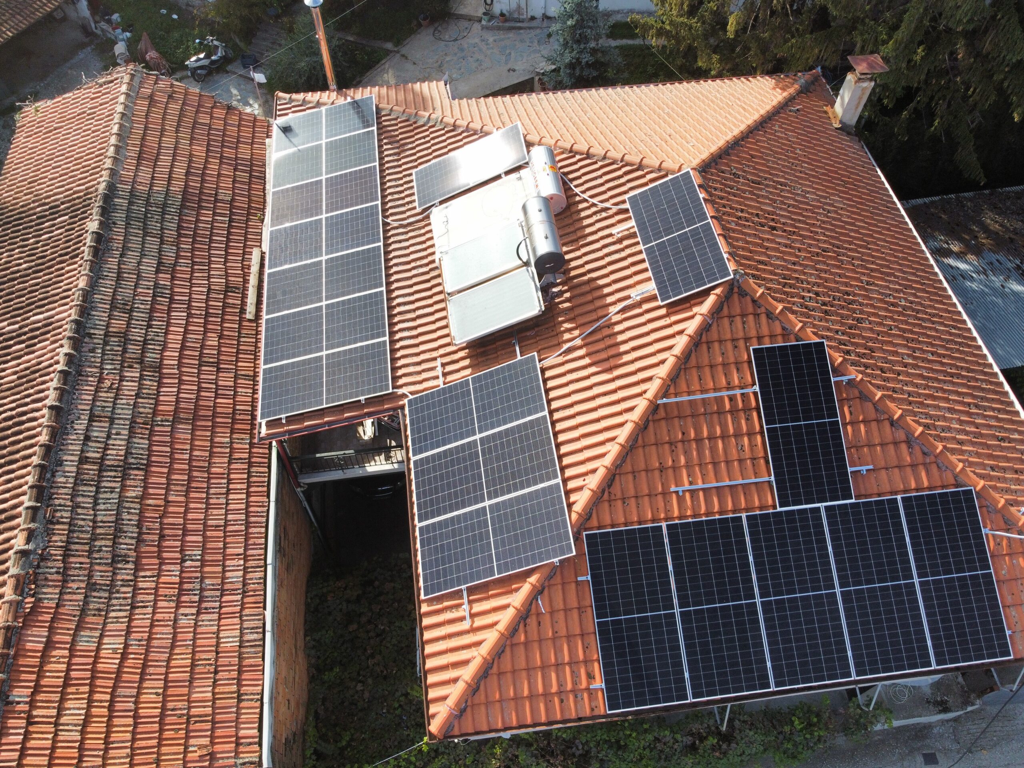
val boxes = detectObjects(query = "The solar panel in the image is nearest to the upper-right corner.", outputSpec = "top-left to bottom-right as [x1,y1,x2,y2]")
[627,169,733,306]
